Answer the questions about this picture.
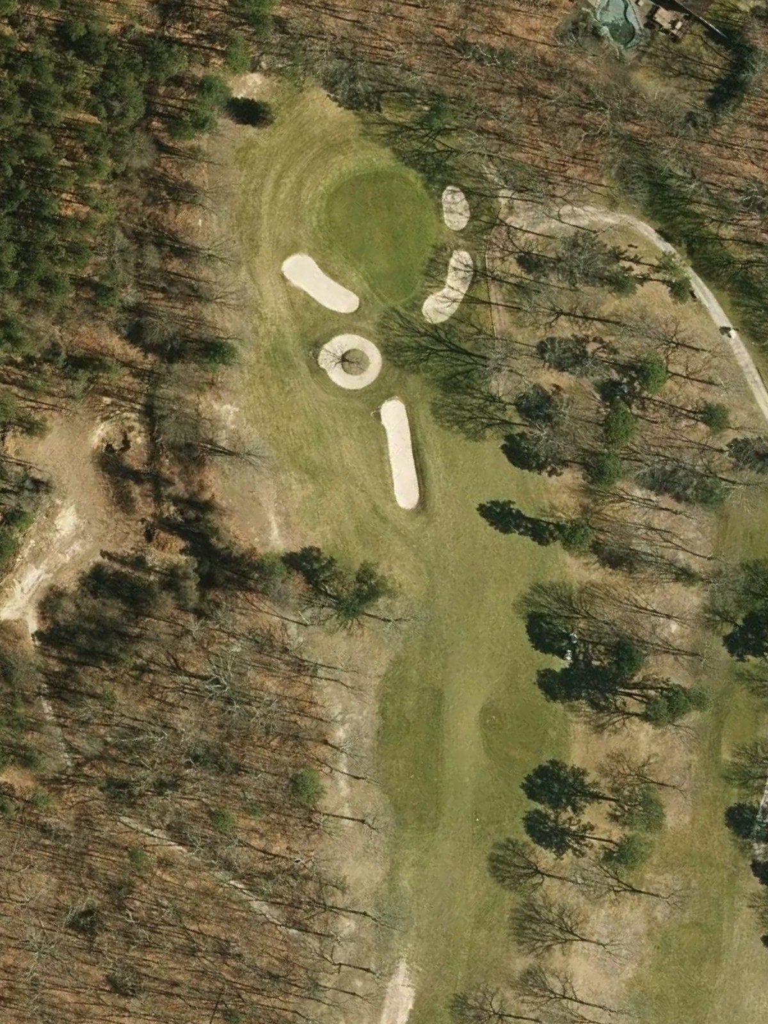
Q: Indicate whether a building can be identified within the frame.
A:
No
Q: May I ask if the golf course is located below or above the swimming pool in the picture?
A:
below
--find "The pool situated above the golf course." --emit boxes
[596,0,642,50]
